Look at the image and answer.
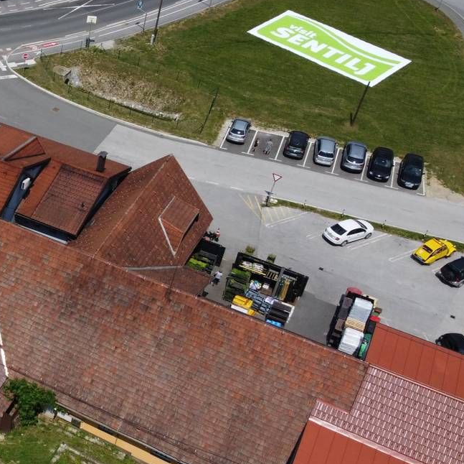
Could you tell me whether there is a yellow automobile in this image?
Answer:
Yes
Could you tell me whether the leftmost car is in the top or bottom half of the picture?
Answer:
top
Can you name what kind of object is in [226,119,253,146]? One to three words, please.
car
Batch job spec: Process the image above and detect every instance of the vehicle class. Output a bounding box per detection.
[412,327,464,355]
[412,239,461,268]
[285,134,312,160]
[226,119,253,146]
[310,139,337,169]
[322,220,374,250]
[436,259,464,290]
[396,155,424,188]
[338,142,368,173]
[365,150,393,184]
